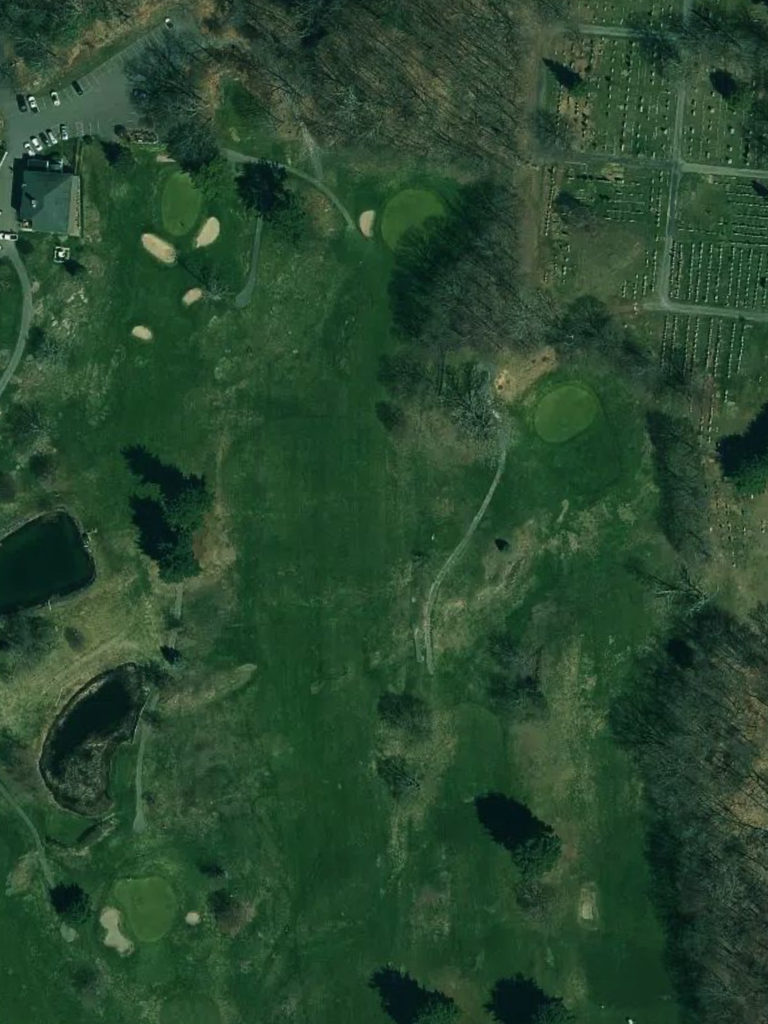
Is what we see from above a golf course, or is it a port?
golf course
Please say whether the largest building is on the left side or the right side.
left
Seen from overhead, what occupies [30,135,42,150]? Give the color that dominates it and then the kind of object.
white vehicle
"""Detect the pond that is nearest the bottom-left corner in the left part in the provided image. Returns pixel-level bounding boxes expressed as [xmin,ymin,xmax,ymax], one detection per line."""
[46,672,136,778]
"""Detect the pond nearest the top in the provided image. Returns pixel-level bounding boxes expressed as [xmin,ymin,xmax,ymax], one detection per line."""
[0,514,93,612]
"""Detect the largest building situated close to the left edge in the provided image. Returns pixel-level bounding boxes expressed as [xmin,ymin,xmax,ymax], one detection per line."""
[19,168,81,233]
